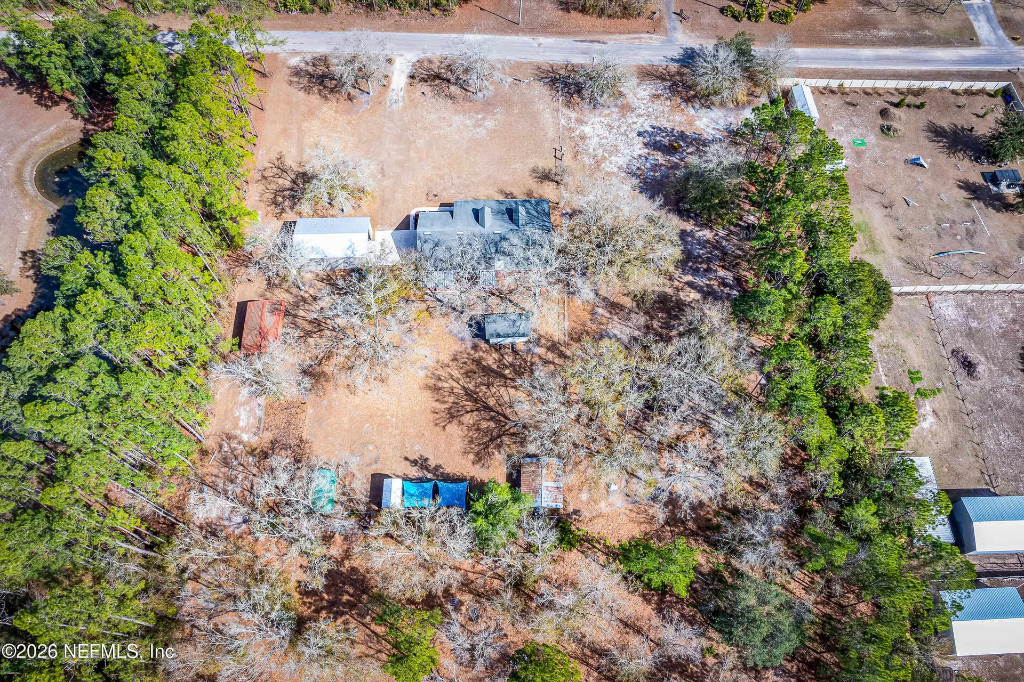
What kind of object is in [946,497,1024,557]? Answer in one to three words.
barn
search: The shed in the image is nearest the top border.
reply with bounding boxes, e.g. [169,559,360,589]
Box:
[787,82,818,130]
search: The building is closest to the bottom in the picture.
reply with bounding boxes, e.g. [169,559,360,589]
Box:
[934,589,1024,658]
